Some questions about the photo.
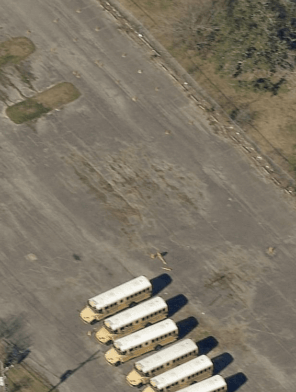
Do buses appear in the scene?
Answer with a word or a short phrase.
Yes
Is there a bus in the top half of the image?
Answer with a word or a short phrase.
No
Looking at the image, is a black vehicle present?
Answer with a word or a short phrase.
No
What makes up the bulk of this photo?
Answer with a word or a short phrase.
paved ground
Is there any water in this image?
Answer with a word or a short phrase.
No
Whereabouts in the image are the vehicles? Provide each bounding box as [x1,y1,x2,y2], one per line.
[142,355,214,392]
[124,339,198,390]
[178,373,227,392]
[77,275,153,326]
[94,296,169,347]
[103,318,178,369]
